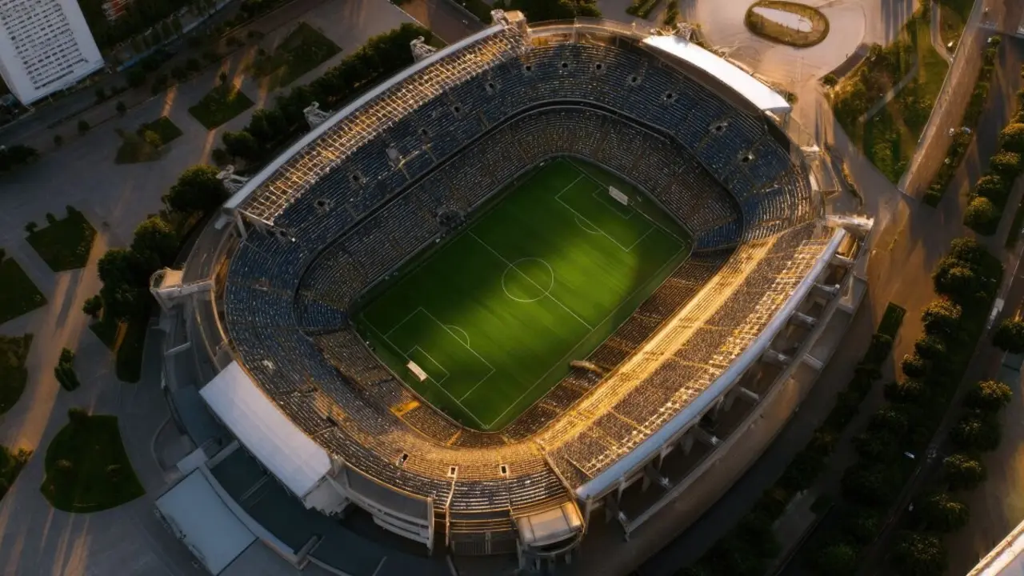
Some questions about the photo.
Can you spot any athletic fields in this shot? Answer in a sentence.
Yes, there's an athletic field here.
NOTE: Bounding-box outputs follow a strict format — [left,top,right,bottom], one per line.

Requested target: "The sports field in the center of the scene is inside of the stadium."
[352,154,694,431]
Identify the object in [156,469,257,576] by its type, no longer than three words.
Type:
building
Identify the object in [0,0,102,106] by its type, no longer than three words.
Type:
building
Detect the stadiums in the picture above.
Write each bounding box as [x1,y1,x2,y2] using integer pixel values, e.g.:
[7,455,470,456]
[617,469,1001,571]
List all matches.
[150,7,876,576]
